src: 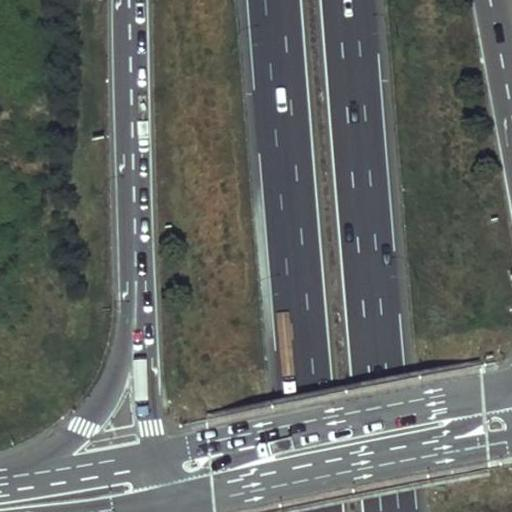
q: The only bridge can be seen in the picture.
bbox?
[204,360,489,512]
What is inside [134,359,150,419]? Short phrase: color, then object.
white vehicle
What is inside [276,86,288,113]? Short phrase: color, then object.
white vehicle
